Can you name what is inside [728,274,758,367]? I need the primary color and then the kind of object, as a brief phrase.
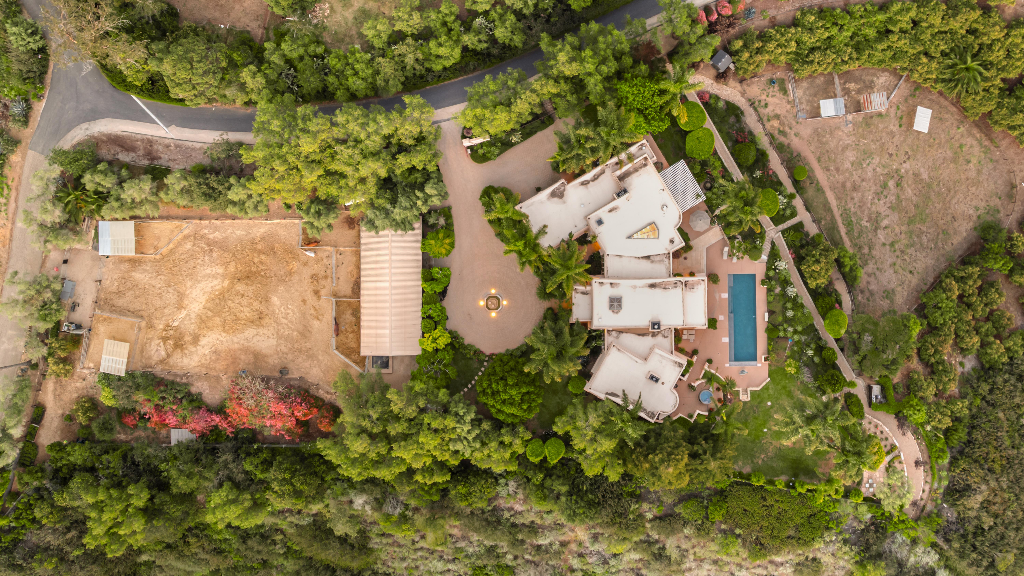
blue swimming pool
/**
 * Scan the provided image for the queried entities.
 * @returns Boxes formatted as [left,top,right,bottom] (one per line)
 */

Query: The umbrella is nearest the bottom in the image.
[690,210,711,230]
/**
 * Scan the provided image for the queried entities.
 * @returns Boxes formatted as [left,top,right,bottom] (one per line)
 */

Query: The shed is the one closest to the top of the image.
[706,51,730,75]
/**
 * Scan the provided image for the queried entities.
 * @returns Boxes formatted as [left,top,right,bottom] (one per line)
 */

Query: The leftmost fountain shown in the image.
[484,294,502,312]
